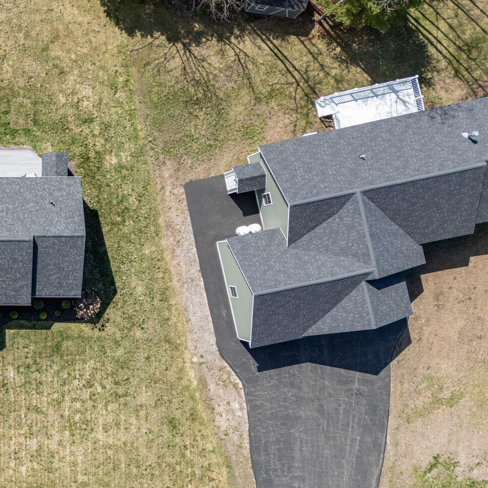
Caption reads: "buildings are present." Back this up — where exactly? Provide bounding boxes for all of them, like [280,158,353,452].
[0,153,86,306]
[243,0,312,18]
[217,98,488,349]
